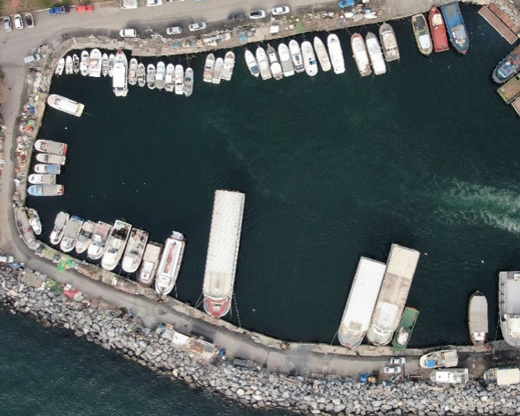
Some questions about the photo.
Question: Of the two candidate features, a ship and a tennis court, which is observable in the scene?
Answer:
ship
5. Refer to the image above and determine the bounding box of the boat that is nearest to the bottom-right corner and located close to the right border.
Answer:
[484,366,520,384]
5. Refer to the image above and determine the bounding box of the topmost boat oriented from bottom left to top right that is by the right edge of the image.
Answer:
[492,42,520,84]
